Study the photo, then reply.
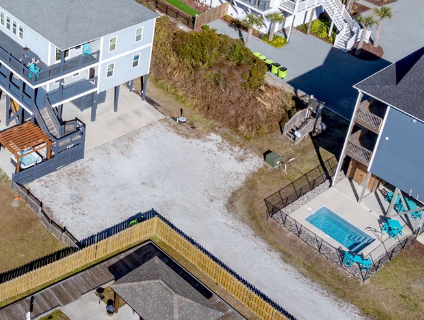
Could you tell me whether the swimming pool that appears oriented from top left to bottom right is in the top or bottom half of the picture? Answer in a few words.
bottom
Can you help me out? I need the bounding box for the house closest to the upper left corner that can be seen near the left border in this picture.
[0,0,160,170]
